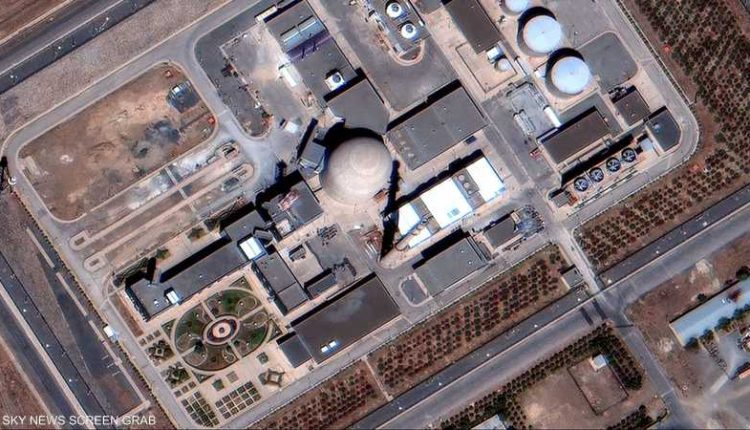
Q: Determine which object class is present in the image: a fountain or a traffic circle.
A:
fountain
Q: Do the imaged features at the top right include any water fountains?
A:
No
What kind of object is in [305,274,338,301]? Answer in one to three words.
shed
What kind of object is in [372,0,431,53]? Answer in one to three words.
house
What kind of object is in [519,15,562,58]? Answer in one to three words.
storage tank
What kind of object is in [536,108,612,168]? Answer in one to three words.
building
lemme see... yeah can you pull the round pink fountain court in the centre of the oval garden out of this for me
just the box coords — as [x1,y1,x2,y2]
[206,317,236,343]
